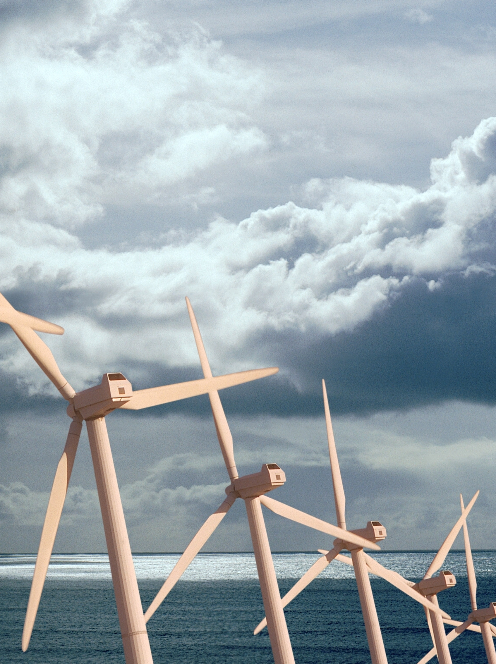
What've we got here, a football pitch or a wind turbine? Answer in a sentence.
This aerial view contains a wind turbine.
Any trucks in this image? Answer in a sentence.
No, there appears to be no truck in this shot.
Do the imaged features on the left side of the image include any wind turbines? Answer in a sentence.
Yes, a wind turbine is visible on the left side of the image.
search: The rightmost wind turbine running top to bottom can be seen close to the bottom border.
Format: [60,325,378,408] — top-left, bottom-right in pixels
[418,495,496,664]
